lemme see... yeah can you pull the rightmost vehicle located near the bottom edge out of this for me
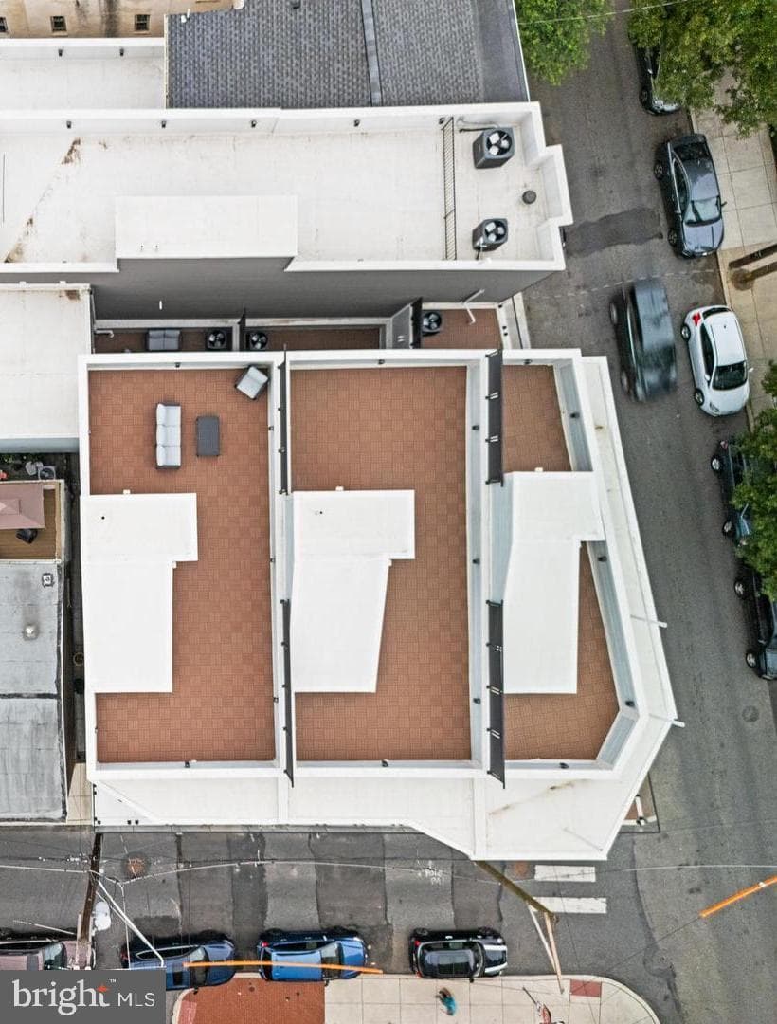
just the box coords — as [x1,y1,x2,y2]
[409,929,510,989]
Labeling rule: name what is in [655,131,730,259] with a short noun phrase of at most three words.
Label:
car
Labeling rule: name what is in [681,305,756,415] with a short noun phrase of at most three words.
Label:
car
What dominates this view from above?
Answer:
buildings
